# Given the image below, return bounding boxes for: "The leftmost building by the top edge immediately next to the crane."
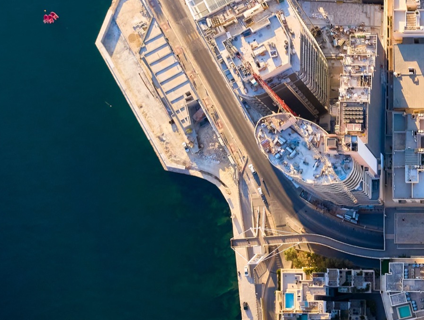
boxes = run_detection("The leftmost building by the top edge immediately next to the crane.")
[196,0,330,114]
